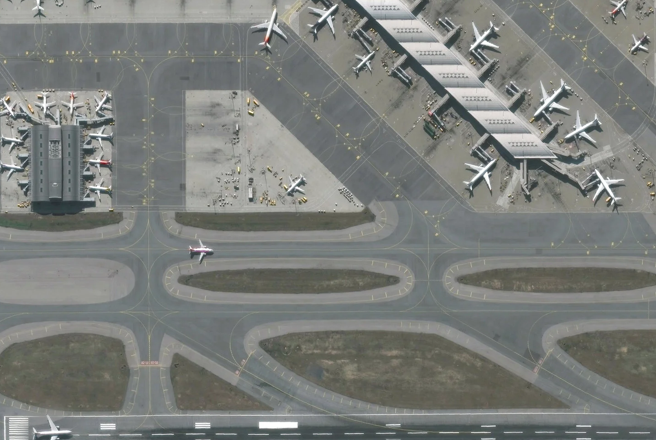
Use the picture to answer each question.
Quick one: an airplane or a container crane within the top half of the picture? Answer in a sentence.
You can see an airplane within the top half of the picture.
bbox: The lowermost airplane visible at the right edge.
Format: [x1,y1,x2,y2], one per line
[594,169,627,206]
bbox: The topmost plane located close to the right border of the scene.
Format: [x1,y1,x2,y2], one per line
[607,0,627,18]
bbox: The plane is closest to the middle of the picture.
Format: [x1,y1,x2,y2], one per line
[287,173,307,194]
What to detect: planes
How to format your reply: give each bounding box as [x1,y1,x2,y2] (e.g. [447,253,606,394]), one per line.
[60,91,82,117]
[188,238,214,261]
[287,173,307,194]
[630,32,652,52]
[95,92,111,113]
[89,153,111,173]
[351,51,374,72]
[305,4,337,35]
[533,78,571,116]
[35,92,55,116]
[470,20,499,50]
[0,97,14,118]
[90,126,114,148]
[252,9,285,48]
[32,413,71,440]
[565,109,603,140]
[462,159,498,192]
[0,156,25,178]
[594,169,627,206]
[0,129,23,150]
[607,0,627,18]
[89,179,112,199]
